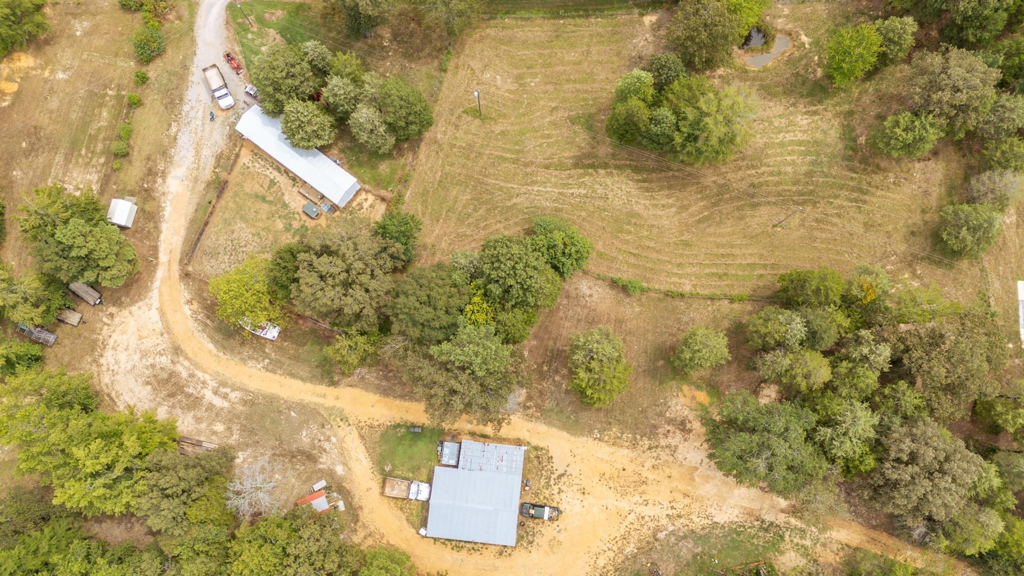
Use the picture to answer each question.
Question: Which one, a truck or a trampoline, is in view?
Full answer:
Visible in the photo is a truck.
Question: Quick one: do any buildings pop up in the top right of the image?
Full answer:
No, no building can be made out in the top right of the image.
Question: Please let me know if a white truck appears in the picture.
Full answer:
Yes, a white truck is visible in the scene.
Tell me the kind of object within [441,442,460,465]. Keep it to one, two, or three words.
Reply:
shed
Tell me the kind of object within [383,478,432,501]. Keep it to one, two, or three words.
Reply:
truck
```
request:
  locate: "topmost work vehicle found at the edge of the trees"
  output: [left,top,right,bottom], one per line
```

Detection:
[222,50,248,78]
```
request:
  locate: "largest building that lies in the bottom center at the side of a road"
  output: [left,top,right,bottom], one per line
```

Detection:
[427,440,526,545]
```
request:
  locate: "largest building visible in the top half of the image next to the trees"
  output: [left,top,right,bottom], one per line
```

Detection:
[237,106,359,207]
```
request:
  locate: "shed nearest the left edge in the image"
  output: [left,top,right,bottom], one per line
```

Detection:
[106,199,137,226]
